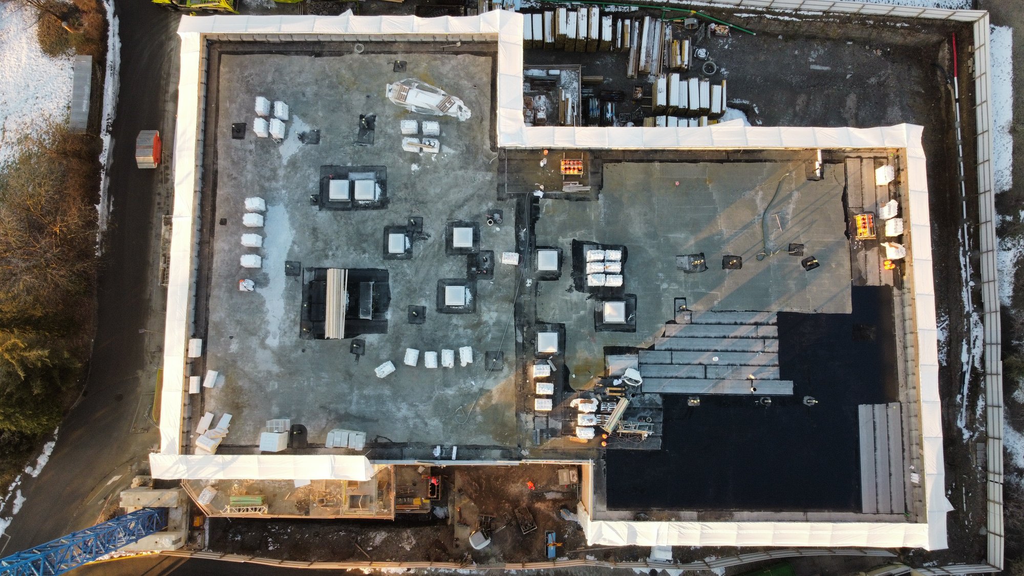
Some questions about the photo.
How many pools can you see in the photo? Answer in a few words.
0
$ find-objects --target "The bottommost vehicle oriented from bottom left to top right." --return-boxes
[468,510,502,554]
